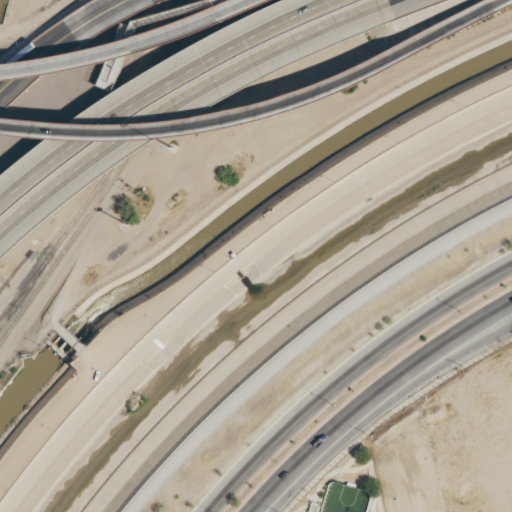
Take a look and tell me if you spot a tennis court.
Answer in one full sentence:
No, the scene contains no tennis court.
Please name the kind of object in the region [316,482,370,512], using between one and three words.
soccer field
